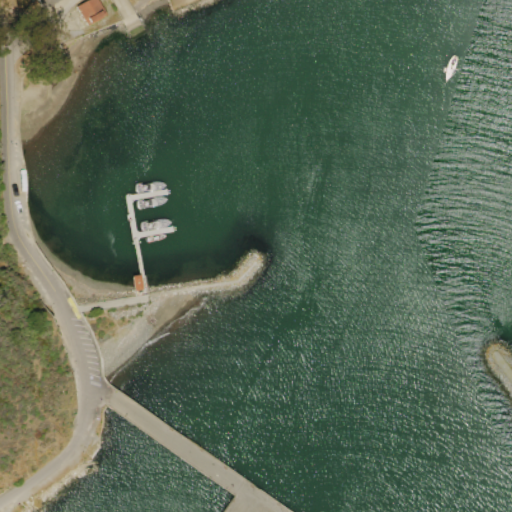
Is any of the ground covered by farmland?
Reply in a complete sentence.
No, the picture contains no farmland.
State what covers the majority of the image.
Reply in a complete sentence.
For the most part, this view shows water.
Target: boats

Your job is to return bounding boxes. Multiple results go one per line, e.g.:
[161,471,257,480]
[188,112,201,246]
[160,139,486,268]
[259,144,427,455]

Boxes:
[136,197,168,209]
[140,220,172,232]
[146,234,166,243]
[135,182,167,192]
[446,56,457,82]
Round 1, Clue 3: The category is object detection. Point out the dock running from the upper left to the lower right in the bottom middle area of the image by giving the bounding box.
[107,386,296,512]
